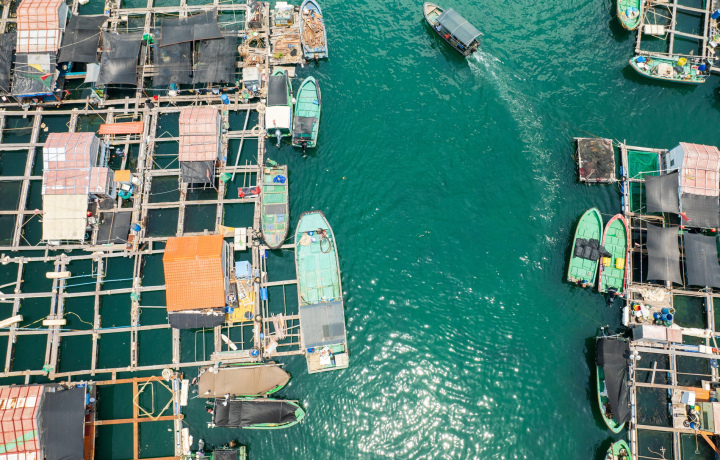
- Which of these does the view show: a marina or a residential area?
marina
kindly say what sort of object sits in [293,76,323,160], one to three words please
boat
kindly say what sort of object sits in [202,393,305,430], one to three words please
boat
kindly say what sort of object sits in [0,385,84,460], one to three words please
shed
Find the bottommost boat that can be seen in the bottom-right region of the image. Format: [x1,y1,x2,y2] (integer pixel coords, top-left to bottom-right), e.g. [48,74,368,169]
[602,439,634,460]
